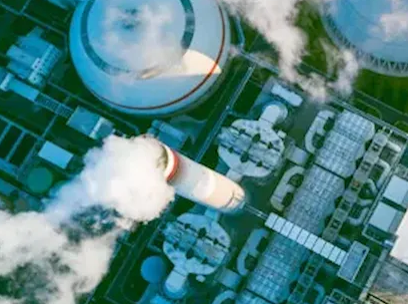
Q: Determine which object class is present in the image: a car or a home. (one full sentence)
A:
Visible in the photo is a home.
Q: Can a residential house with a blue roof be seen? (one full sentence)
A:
Yes, a residential house with a blue roof appears in the view.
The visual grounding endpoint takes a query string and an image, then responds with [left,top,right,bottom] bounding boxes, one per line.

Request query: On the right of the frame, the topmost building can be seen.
[270,84,302,106]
